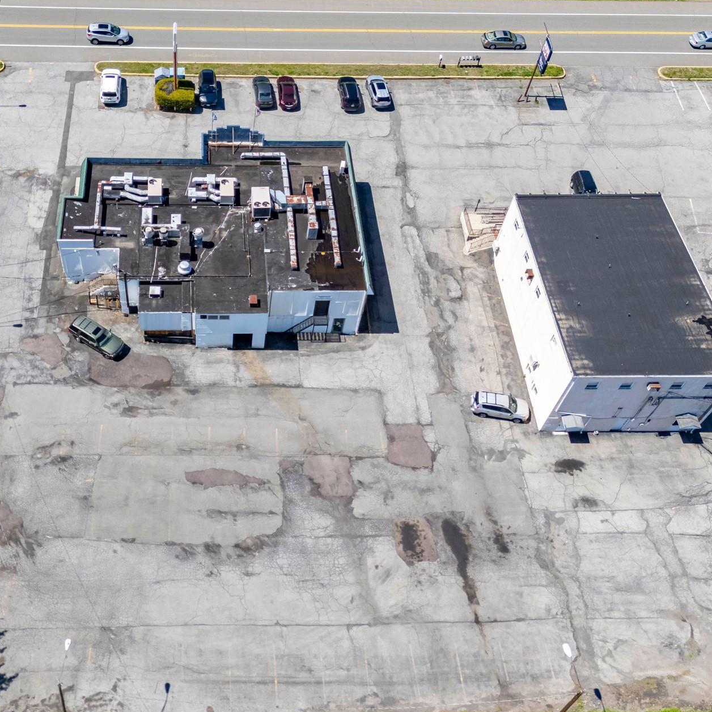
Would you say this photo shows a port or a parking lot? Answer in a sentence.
It's a parking lot.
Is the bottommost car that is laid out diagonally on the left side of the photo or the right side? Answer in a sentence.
The bottommost car that is laid out diagonally sits on the left side.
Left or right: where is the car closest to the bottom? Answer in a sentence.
The car closest to the bottom is on the right side of the image.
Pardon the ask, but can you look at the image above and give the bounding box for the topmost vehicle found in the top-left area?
[87,22,129,43]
